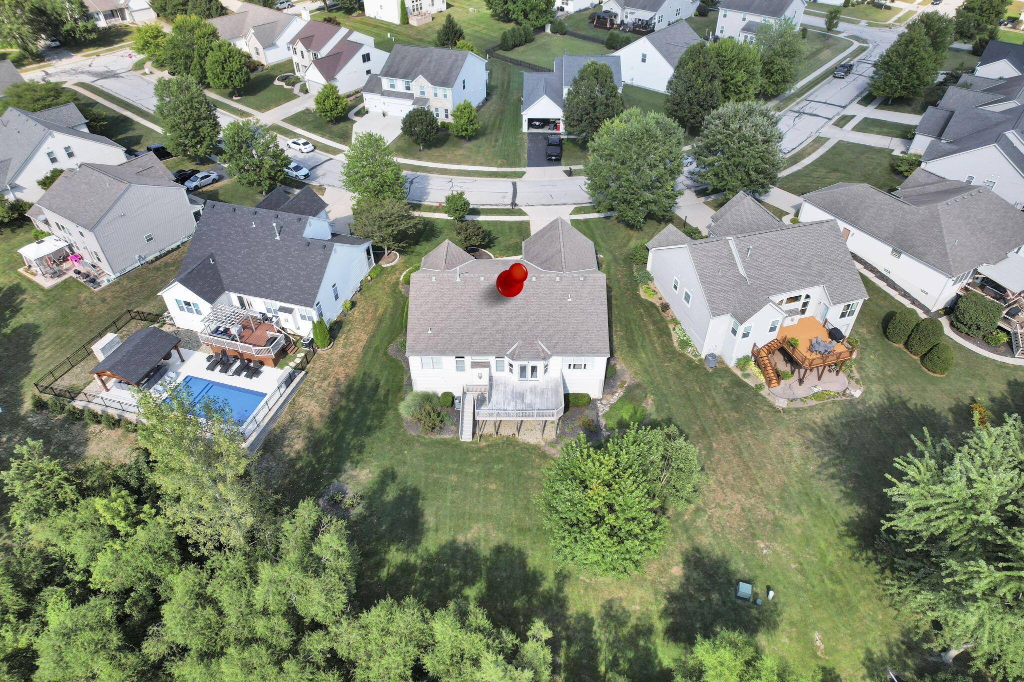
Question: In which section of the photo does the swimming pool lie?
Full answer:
The swimming pool is located in the left region of the scene.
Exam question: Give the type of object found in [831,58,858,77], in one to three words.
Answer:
vehicle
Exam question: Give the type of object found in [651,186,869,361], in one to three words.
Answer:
house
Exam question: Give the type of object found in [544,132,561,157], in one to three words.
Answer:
vehicle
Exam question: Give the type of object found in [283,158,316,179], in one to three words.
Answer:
car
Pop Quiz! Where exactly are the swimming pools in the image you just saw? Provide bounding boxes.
[169,375,270,428]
